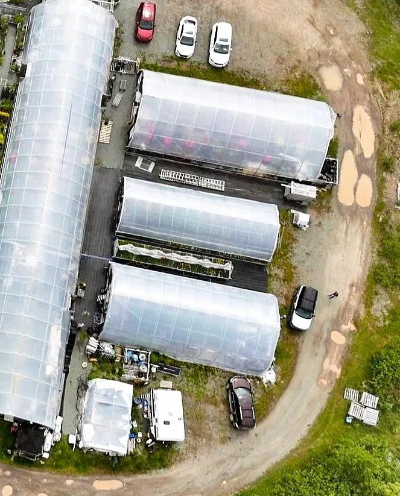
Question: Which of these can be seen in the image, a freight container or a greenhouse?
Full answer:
This aerial view contains a greenhouse.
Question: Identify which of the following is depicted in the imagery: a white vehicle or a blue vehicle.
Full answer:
The one in the frame is a white vehicle.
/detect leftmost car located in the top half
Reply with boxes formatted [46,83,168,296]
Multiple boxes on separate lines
[137,0,159,42]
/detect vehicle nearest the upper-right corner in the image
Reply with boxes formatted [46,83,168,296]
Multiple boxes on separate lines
[210,18,235,66]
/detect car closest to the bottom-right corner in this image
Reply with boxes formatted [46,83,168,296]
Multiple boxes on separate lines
[229,375,260,430]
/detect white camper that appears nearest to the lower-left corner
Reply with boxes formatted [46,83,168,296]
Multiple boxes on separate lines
[147,391,184,452]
